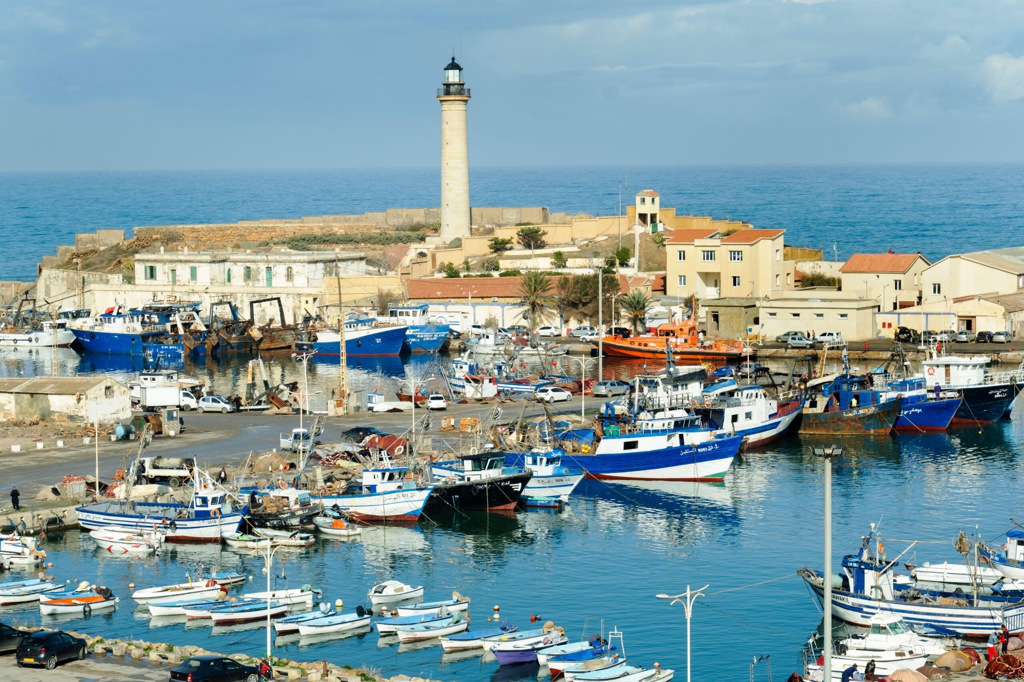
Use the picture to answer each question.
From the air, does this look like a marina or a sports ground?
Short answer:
marina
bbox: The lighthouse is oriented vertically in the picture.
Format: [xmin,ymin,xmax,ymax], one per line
[437,57,472,235]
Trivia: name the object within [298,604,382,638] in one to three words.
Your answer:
boat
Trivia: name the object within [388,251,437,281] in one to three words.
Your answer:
shed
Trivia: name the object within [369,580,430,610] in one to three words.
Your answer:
boat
